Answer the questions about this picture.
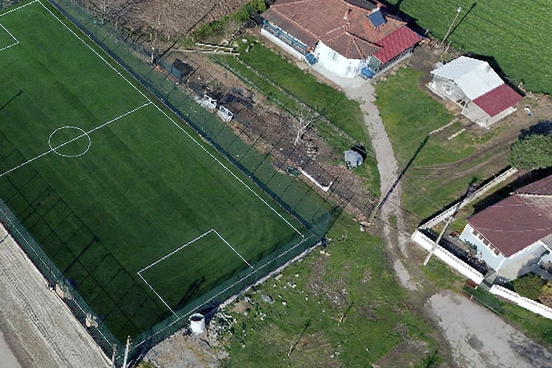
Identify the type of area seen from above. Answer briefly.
sports ground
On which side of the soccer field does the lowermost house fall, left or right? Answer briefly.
to the right of it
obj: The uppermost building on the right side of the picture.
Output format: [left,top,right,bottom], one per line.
[258,0,421,80]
